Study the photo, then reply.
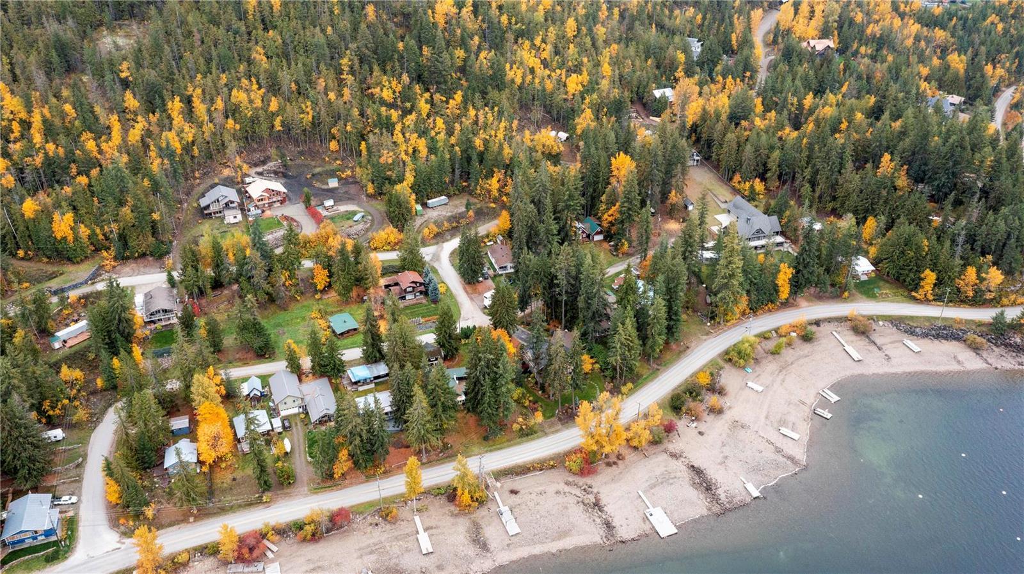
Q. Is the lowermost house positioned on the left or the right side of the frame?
left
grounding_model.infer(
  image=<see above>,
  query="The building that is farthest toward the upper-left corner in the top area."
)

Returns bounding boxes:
[196,176,242,222]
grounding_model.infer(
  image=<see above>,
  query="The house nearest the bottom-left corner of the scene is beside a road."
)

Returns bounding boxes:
[0,486,66,561]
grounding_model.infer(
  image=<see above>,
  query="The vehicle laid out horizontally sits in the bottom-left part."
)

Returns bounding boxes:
[54,493,78,506]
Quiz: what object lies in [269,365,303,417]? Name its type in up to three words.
building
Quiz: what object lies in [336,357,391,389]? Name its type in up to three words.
house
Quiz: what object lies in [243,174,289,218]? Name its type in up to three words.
house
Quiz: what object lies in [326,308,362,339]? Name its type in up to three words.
building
